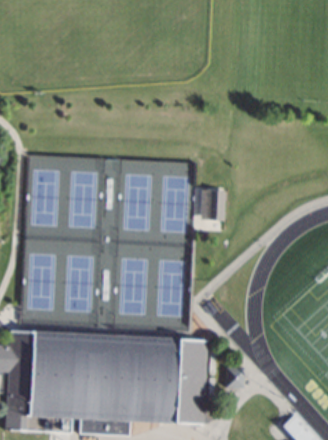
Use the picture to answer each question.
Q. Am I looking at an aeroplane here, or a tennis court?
tennis court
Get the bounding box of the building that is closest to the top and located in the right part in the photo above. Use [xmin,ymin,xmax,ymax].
[194,188,226,232]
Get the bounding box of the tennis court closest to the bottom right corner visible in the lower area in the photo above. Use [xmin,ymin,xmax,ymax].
[156,260,185,318]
